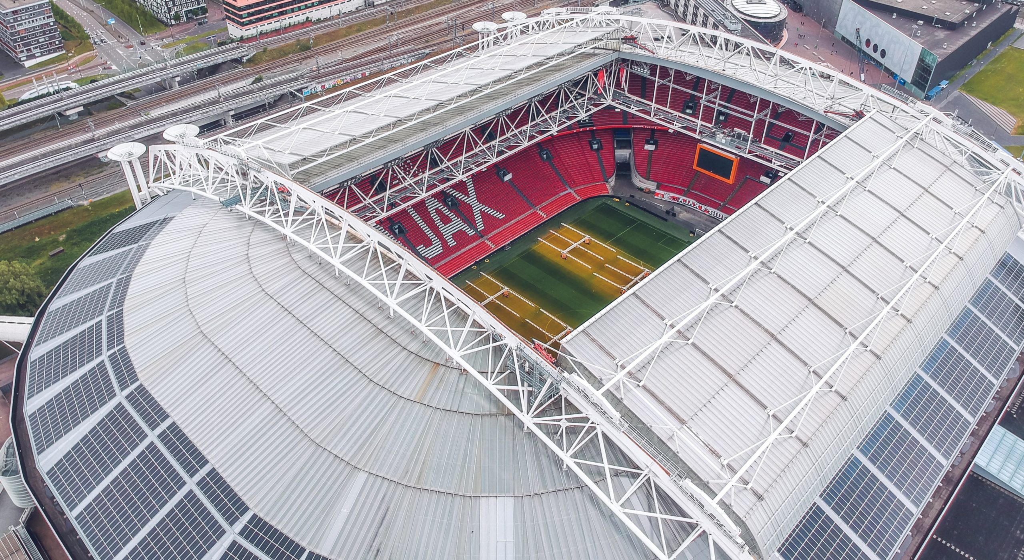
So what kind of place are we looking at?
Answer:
sports ground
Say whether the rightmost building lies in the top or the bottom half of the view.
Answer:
top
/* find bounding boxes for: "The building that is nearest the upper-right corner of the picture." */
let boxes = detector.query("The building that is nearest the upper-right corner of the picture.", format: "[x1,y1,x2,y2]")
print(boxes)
[833,0,1024,98]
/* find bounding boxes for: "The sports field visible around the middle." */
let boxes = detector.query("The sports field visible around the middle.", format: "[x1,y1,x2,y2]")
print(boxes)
[466,204,688,354]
